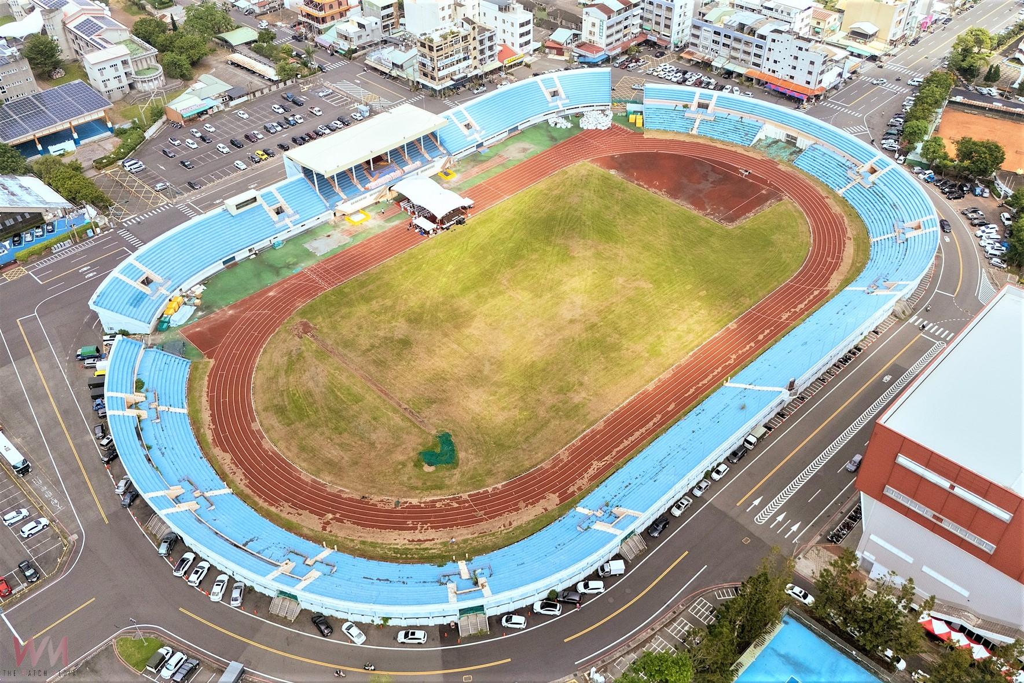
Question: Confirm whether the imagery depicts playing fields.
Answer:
Yes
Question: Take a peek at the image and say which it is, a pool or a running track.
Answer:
running track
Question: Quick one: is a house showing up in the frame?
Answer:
Yes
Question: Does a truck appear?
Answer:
Yes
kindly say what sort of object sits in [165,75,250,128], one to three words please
building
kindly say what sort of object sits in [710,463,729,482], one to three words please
car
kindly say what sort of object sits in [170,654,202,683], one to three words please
truck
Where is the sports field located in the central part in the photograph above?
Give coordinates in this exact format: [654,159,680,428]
[251,153,811,499]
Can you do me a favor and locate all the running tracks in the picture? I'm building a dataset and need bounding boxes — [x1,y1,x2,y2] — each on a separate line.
[200,136,852,543]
